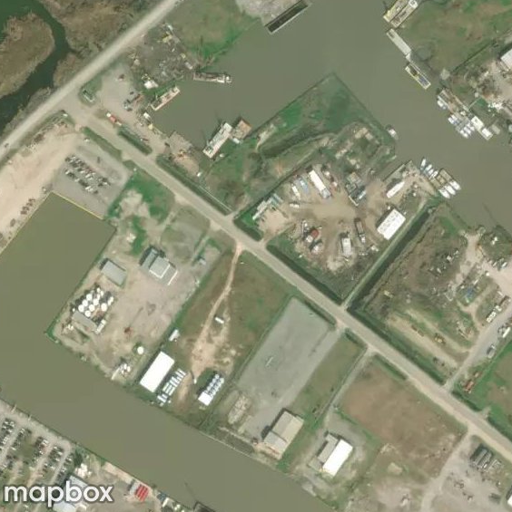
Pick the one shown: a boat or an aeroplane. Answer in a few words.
boat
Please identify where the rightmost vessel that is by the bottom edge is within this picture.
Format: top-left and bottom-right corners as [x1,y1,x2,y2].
[191,496,222,512]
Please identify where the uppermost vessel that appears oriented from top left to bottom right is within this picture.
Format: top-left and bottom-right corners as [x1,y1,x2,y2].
[386,30,412,56]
